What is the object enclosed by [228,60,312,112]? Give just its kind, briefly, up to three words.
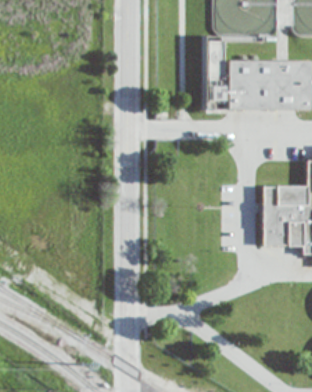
building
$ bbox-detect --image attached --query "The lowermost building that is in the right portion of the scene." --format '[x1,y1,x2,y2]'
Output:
[262,160,312,267]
